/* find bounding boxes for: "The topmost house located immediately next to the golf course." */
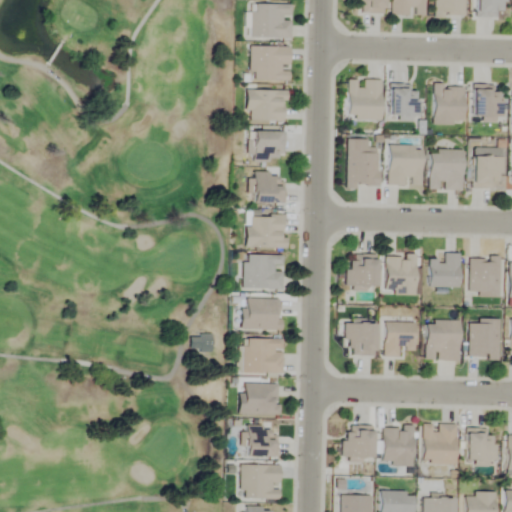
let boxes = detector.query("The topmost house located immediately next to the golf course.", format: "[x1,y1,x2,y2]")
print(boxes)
[251,1,296,41]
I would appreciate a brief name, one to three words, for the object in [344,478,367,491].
swimming pool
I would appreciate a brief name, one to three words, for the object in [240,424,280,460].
house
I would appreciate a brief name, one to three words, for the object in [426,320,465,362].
house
